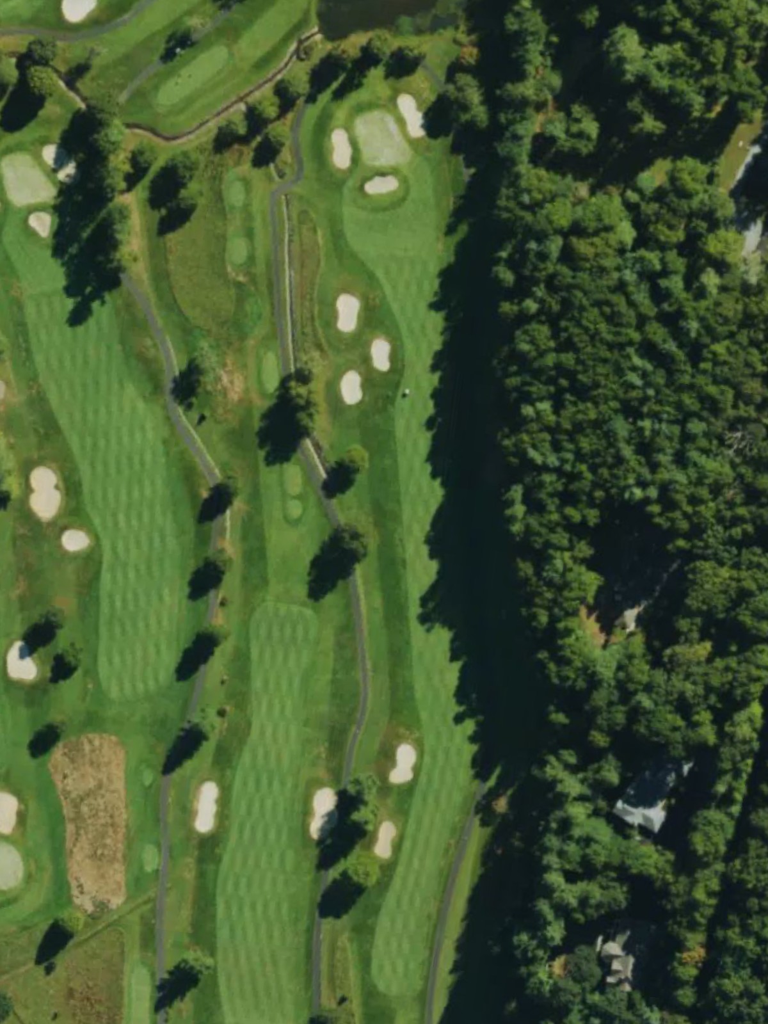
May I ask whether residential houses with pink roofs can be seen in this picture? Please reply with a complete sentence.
No, there's no residential house with a pink roof here.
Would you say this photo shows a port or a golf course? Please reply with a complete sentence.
The picture captures a golf course.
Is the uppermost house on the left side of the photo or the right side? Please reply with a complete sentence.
The uppermost house is on the right side of the image.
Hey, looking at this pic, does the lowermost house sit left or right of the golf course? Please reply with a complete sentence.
You can see the lowermost house positioned to the right of the golf course.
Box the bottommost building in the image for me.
[601,937,638,993]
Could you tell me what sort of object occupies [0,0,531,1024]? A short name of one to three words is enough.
golf course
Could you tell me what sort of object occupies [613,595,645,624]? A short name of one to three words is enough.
house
